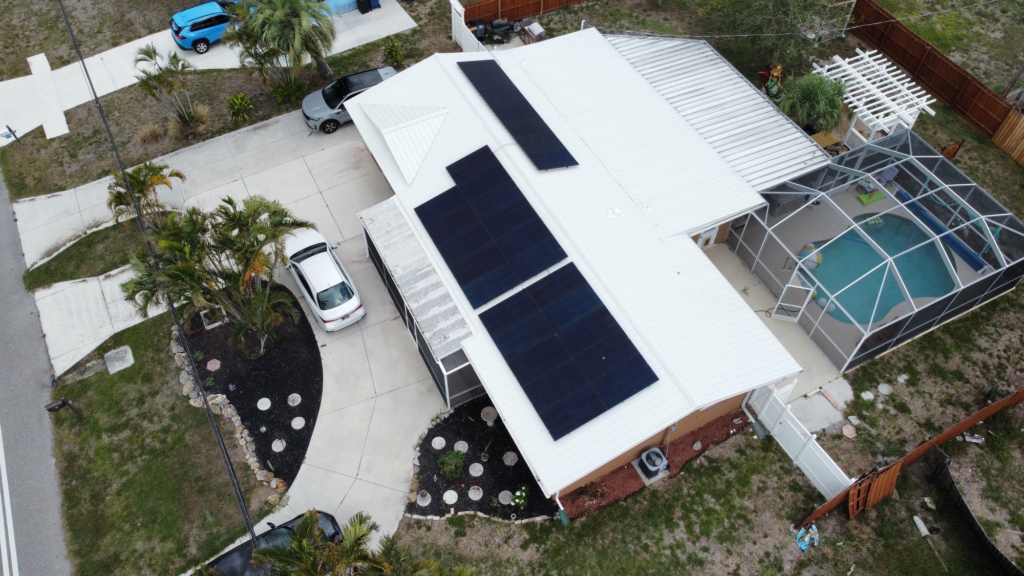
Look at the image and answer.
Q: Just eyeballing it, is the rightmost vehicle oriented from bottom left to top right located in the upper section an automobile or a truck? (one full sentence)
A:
The rightmost vehicle oriented from bottom left to top right located in the upper section appears to be an automobile.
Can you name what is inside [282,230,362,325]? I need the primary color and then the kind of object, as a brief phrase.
white car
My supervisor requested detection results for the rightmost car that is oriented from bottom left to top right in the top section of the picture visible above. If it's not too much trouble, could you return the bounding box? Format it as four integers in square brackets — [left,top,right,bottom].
[297,65,391,133]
